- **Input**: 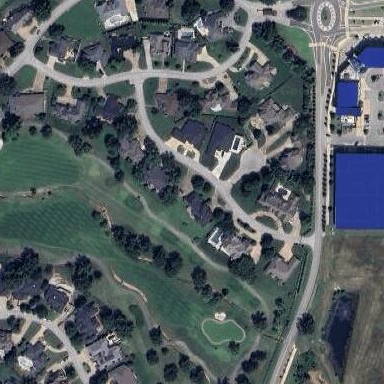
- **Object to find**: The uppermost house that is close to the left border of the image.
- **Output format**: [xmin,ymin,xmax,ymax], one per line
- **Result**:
[3,6,32,28]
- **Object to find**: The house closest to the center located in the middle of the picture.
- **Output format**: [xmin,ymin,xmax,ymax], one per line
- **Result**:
[183,191,216,220]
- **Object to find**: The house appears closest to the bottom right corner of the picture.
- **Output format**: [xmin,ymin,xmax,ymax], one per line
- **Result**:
[264,252,300,284]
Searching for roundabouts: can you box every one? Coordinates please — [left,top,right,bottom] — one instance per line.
[311,0,342,38]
